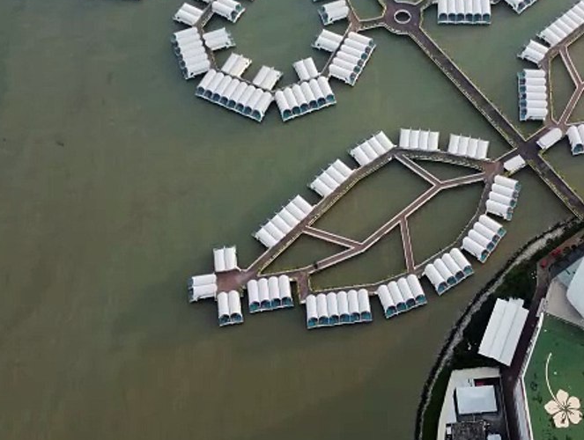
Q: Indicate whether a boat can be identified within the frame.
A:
No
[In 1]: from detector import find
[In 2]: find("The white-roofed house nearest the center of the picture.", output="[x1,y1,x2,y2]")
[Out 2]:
[250,193,314,253]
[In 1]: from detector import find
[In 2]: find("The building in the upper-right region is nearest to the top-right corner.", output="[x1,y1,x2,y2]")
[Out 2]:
[536,0,584,49]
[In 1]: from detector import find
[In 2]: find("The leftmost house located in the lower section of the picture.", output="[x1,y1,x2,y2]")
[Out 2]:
[187,275,218,301]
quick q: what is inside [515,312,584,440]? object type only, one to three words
building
